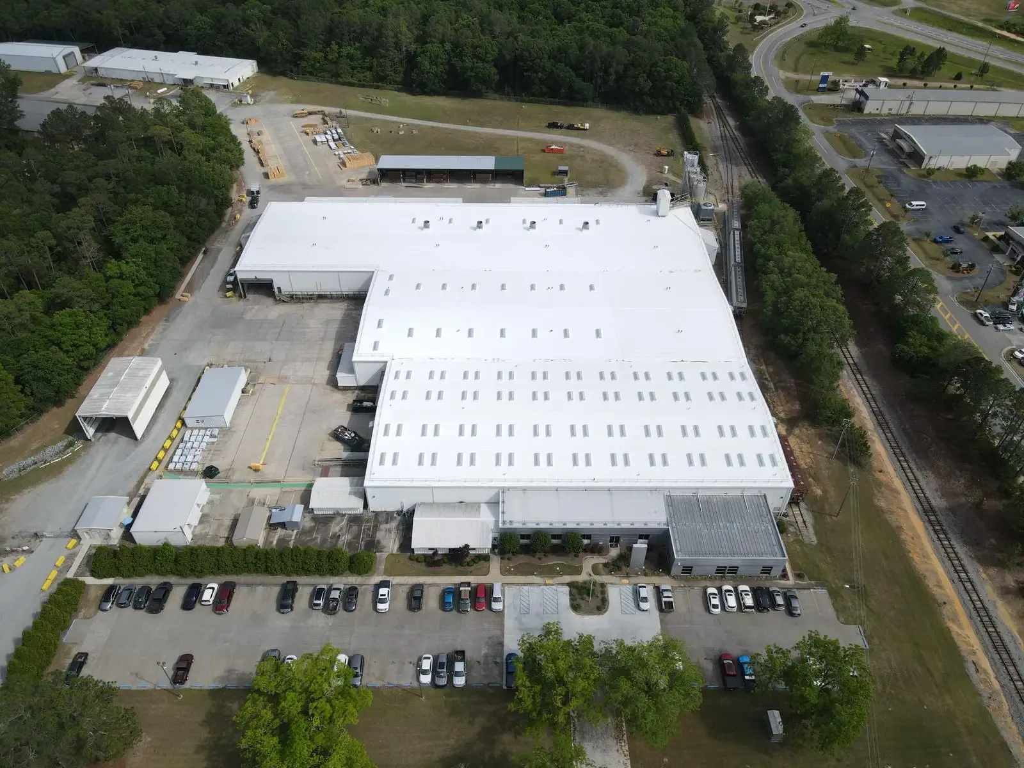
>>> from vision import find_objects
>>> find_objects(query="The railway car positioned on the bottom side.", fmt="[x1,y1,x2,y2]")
[778,430,808,500]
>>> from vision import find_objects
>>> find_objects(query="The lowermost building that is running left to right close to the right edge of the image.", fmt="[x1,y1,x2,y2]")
[892,125,1022,168]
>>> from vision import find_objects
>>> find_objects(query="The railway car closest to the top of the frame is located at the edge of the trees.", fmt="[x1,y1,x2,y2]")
[729,202,743,241]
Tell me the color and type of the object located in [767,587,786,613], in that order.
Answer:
gray car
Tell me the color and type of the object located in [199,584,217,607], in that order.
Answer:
white car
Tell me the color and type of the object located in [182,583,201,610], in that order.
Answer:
black car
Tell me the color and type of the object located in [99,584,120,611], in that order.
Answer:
gray car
